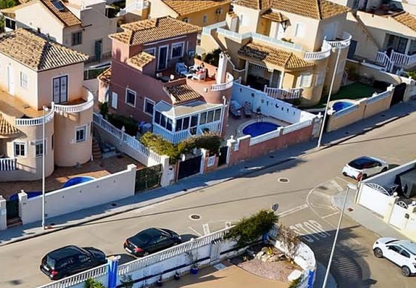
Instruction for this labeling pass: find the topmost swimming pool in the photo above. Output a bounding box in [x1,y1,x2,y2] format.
[325,99,358,115]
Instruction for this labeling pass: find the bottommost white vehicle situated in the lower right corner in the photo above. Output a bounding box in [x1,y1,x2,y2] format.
[371,238,416,277]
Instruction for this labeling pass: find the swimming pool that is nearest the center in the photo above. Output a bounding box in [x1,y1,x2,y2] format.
[237,120,282,138]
